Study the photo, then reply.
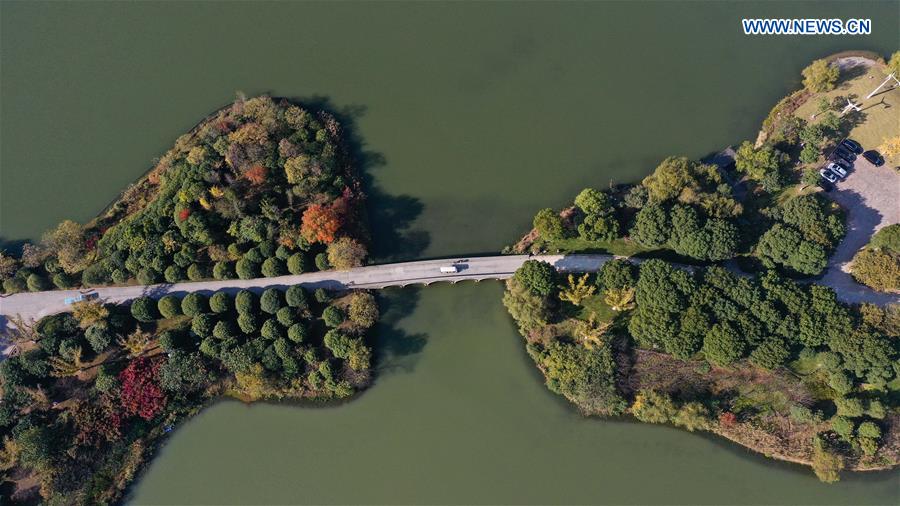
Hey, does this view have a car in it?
Yes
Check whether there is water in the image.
Yes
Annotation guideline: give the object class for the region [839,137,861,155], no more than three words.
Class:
car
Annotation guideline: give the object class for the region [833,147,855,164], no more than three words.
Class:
car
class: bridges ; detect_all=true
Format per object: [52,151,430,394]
[357,252,522,293]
